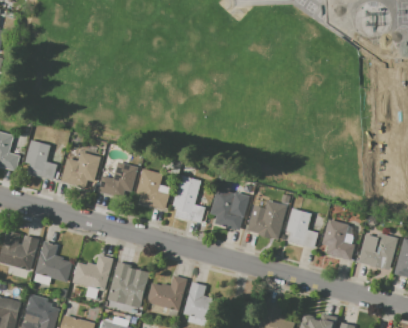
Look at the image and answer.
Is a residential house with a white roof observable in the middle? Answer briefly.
Yes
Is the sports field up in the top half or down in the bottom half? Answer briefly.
top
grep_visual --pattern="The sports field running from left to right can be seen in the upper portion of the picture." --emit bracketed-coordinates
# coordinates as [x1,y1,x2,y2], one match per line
[8,0,362,196]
